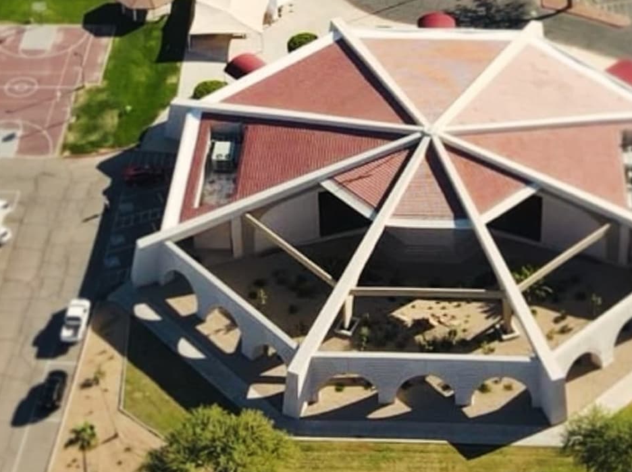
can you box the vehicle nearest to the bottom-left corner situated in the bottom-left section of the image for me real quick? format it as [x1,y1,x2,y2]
[35,370,71,416]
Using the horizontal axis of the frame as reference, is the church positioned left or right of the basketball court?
to the right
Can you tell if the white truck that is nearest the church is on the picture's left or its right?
left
